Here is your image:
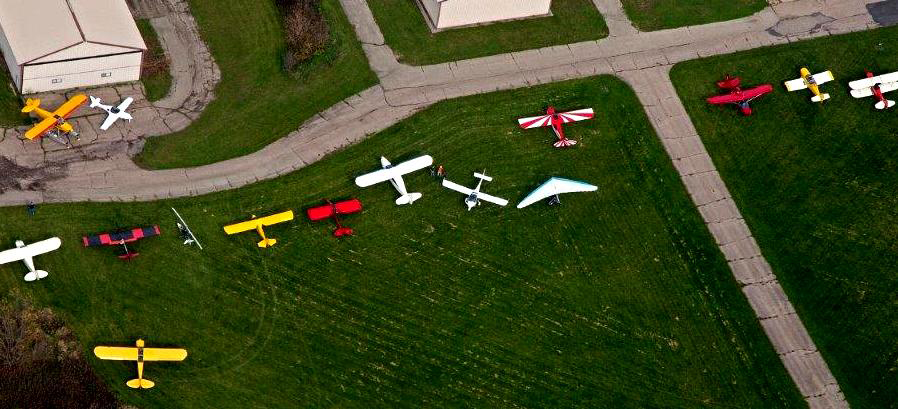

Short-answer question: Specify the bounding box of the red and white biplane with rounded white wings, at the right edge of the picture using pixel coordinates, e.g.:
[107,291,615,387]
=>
[848,72,898,108]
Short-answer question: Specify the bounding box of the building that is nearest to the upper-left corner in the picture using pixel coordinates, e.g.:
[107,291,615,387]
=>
[0,0,148,94]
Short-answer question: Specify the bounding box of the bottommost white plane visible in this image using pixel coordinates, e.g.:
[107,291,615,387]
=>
[0,239,61,279]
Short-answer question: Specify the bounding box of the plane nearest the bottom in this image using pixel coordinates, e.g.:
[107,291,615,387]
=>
[95,338,187,389]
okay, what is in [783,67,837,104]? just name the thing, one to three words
airplane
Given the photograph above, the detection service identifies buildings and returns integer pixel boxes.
[0,0,148,94]
[415,0,556,32]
